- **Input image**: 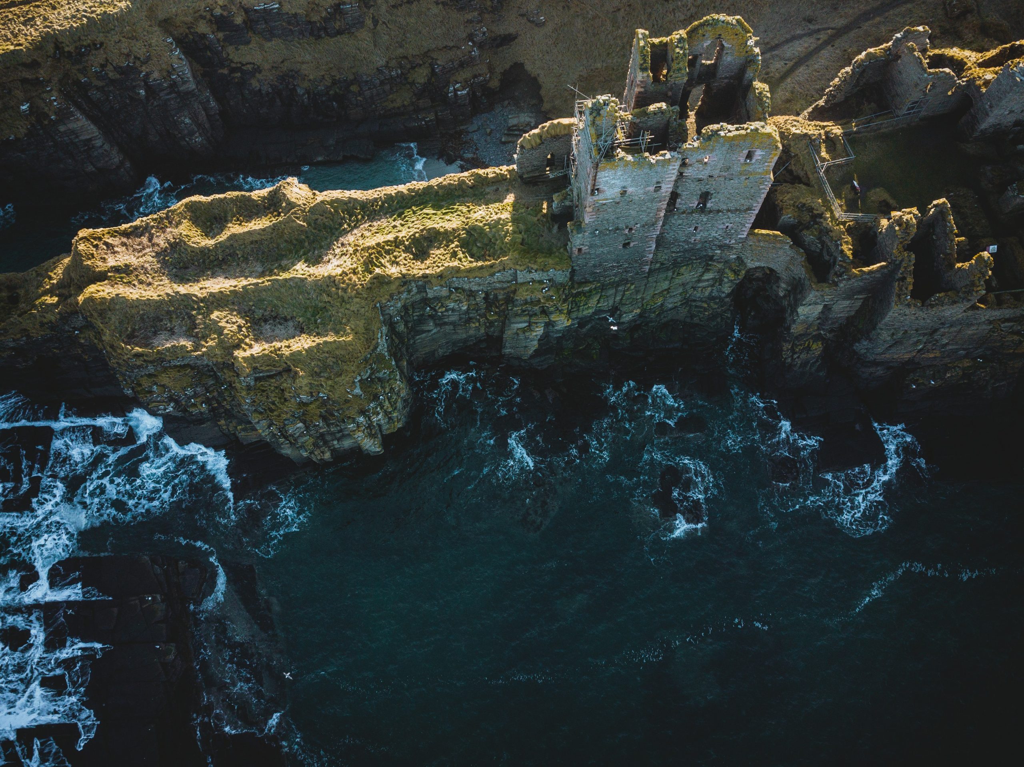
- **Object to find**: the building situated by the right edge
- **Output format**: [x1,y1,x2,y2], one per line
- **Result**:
[861,180,1005,338]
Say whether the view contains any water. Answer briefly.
Yes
